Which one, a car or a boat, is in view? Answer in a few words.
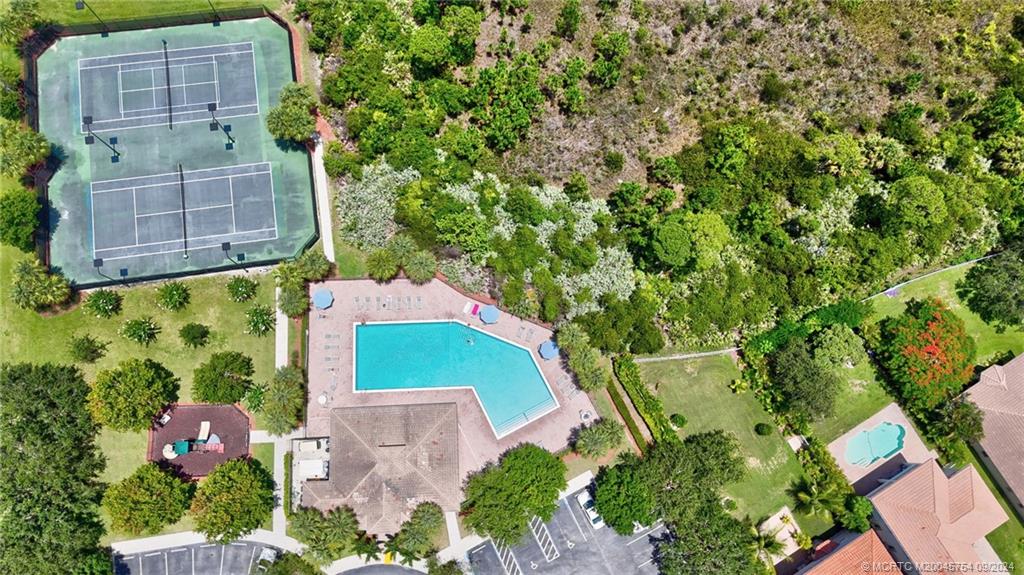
car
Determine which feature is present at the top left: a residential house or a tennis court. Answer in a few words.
tennis court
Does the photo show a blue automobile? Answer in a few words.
No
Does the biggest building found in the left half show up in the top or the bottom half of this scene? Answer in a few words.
bottom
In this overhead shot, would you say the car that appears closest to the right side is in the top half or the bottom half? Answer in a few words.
bottom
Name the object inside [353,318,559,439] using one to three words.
swimming pool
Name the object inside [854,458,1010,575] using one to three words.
house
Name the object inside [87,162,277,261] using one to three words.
tennis court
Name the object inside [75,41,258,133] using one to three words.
tennis court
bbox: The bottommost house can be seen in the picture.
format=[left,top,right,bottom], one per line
[795,529,903,575]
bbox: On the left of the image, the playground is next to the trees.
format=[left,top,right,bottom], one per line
[147,402,254,478]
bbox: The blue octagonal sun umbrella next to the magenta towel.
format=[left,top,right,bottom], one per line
[479,305,500,325]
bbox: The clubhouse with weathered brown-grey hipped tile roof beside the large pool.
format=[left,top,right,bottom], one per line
[302,403,461,538]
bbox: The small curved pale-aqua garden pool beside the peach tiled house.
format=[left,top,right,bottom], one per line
[846,421,908,468]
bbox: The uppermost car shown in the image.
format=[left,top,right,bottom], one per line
[576,491,605,529]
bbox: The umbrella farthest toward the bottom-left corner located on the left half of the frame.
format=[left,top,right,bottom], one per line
[312,288,333,309]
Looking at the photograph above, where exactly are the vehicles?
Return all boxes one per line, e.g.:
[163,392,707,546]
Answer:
[250,546,272,575]
[576,491,605,529]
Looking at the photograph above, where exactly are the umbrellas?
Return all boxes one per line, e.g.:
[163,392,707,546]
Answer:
[312,288,333,309]
[539,340,559,361]
[479,305,500,325]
